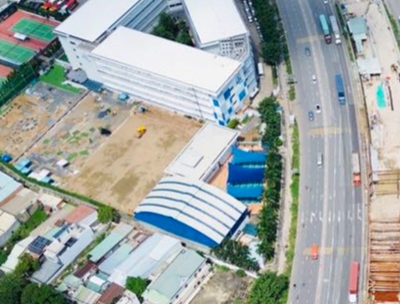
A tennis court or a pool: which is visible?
tennis court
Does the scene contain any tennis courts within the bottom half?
No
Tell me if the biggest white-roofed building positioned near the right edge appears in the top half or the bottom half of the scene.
top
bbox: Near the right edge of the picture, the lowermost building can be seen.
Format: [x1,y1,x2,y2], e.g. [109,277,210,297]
[357,57,380,79]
